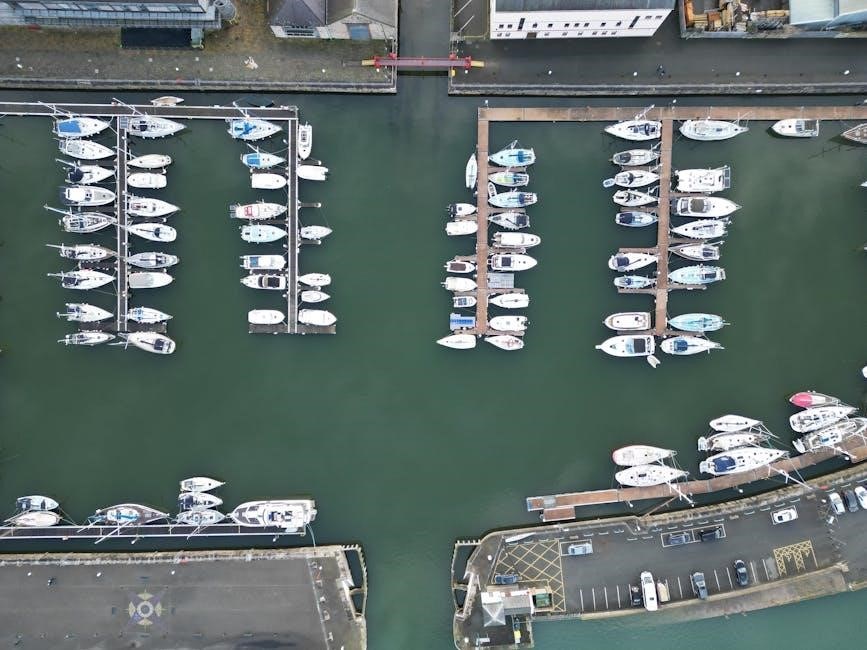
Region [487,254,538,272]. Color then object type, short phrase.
white boat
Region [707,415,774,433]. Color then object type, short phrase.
white boat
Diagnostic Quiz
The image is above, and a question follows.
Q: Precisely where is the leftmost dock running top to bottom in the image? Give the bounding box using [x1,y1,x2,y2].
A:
[76,118,168,335]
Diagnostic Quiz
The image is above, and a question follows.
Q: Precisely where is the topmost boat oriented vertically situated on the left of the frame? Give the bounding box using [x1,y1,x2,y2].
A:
[298,121,312,160]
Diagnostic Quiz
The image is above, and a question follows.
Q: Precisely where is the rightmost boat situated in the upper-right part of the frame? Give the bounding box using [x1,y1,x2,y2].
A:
[841,124,867,145]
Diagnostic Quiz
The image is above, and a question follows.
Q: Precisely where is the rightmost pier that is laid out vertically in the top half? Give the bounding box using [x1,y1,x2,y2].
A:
[616,121,706,339]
